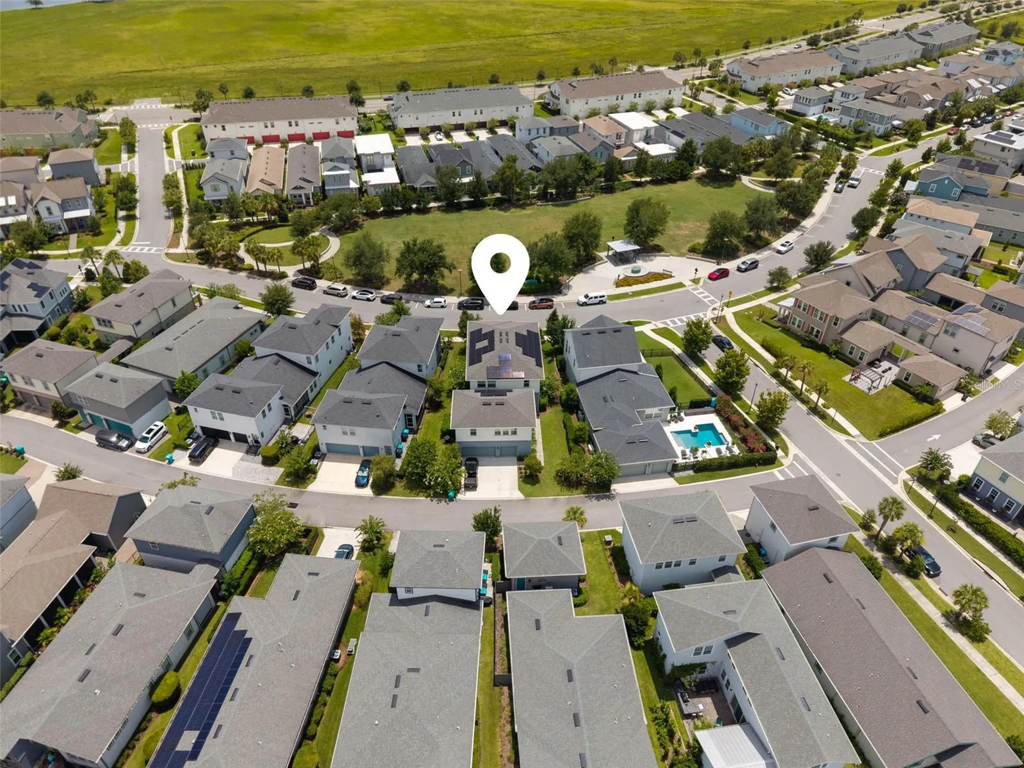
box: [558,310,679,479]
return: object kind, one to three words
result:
house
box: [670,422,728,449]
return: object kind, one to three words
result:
swimming pool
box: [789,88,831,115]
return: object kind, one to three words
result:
building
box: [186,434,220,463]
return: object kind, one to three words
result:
car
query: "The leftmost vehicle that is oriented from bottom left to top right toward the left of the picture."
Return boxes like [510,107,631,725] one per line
[134,422,168,450]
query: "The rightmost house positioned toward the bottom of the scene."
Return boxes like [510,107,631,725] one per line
[967,436,1024,527]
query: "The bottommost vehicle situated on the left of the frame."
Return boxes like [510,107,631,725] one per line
[333,539,355,560]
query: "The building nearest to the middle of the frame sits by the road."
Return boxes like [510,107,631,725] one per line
[450,321,544,457]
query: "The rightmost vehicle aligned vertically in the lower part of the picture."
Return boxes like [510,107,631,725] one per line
[463,457,479,490]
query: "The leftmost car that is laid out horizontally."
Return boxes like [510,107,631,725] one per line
[94,429,132,449]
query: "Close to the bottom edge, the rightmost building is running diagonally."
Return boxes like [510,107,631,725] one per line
[762,549,1024,768]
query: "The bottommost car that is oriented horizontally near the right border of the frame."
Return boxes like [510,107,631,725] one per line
[968,433,1007,448]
